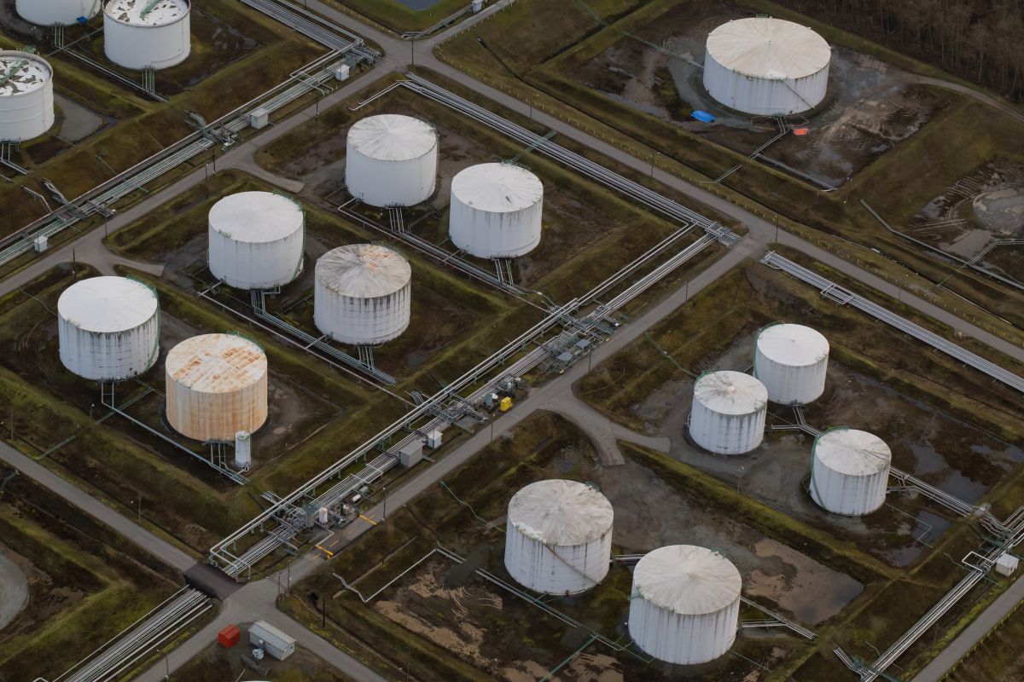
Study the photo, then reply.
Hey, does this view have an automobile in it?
No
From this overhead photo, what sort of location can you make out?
industrial area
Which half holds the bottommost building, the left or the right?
left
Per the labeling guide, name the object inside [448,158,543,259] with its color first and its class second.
white storage tank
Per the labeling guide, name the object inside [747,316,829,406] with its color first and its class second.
white storage tank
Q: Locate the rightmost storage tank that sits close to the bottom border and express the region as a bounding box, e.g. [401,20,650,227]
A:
[627,543,742,665]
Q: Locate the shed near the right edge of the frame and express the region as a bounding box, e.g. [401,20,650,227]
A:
[996,553,1019,577]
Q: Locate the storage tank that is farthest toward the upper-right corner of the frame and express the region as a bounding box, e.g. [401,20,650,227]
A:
[702,12,831,116]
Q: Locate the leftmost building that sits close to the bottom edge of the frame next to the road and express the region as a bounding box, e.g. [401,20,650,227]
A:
[251,623,295,662]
